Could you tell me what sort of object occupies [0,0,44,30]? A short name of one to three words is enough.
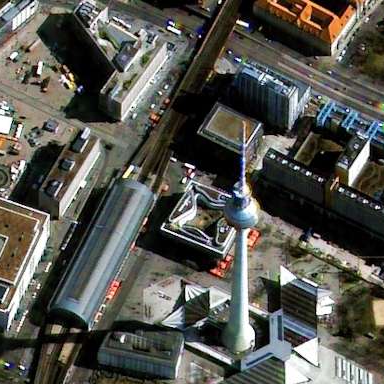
building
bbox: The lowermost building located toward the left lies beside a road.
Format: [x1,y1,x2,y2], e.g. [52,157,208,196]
[98,316,186,376]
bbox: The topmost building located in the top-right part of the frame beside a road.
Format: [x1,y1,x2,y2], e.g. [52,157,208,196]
[256,0,374,56]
